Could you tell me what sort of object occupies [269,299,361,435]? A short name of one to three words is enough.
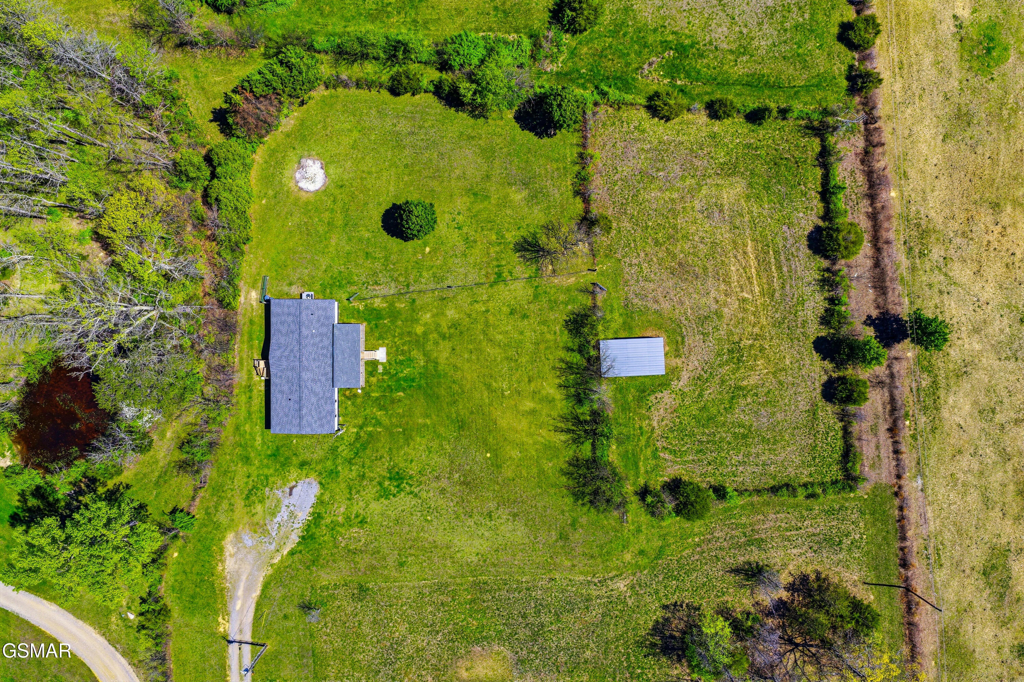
house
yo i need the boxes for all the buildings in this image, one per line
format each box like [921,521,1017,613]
[269,299,361,435]
[599,337,665,377]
